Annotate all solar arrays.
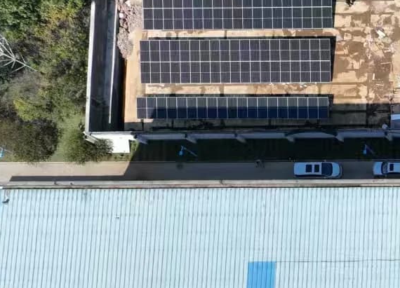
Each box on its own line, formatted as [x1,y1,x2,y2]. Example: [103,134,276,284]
[143,0,332,29]
[137,97,329,119]
[139,39,330,83]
